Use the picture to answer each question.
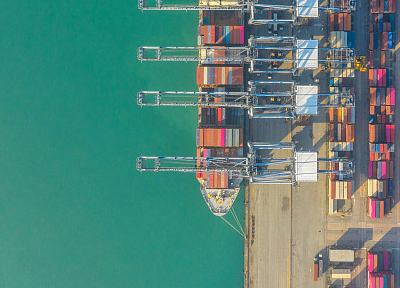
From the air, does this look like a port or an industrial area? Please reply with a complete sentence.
This image shows a port.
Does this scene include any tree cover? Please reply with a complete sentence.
No, no tree cover is visible.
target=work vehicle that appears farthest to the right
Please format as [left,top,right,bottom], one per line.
[355,54,367,72]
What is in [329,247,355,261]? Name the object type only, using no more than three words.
building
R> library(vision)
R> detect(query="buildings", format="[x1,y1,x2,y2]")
[329,247,355,261]
[332,267,352,277]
